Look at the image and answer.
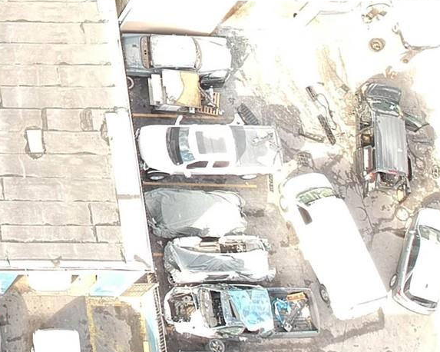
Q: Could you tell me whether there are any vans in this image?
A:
Yes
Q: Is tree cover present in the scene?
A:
No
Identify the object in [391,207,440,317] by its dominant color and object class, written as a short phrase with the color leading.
white car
